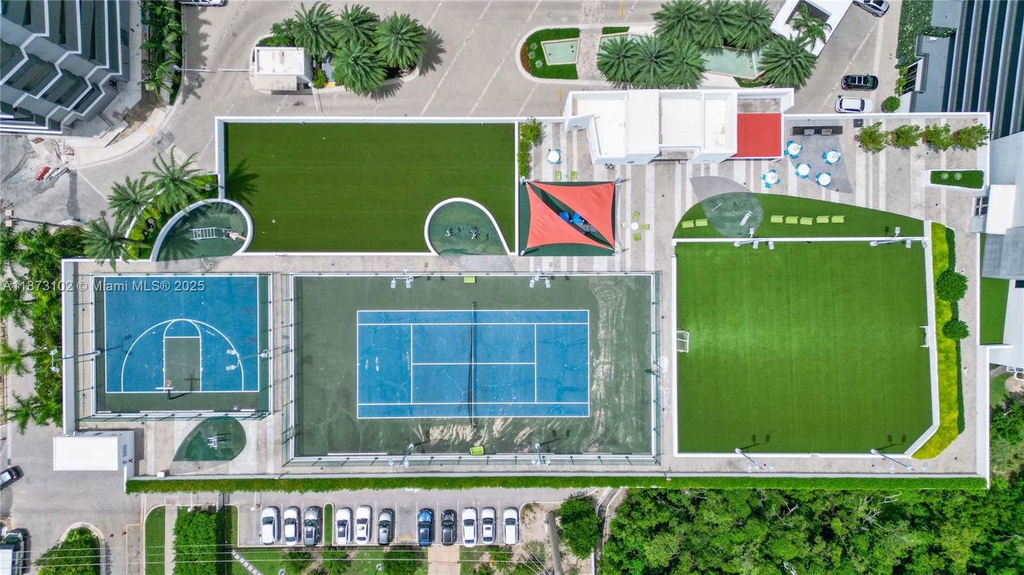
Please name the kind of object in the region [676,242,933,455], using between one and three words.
soccer field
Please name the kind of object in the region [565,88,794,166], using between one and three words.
building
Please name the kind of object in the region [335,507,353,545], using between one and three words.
car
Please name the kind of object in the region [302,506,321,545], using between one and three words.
car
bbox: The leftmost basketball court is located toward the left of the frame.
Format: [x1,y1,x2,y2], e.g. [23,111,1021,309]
[92,274,269,417]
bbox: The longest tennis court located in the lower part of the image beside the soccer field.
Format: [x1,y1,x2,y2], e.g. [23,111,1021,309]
[291,275,656,459]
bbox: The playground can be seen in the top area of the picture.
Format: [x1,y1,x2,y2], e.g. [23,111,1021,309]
[519,181,615,256]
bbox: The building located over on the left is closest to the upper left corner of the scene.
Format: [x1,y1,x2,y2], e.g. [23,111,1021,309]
[0,0,131,137]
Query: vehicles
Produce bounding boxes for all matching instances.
[261,505,280,544]
[355,504,372,543]
[302,506,321,545]
[852,0,890,19]
[502,506,519,543]
[480,505,497,543]
[439,509,456,546]
[416,507,434,546]
[0,464,24,490]
[282,505,301,545]
[335,507,353,545]
[377,508,394,545]
[461,506,478,546]
[838,73,877,92]
[832,95,872,114]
